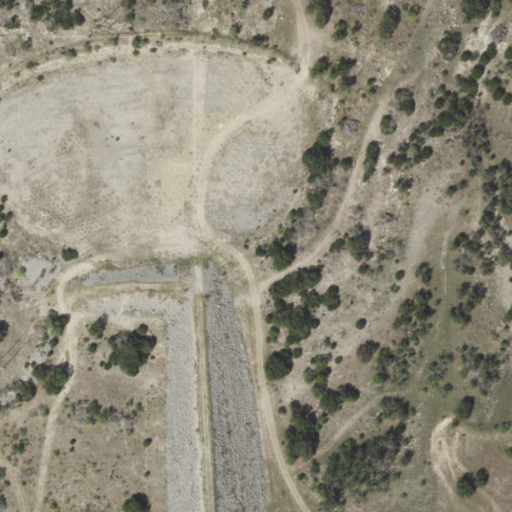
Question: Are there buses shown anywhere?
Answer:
No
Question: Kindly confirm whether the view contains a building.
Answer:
No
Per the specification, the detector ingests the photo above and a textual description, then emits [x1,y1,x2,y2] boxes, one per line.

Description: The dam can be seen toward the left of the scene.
[68,261,266,512]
